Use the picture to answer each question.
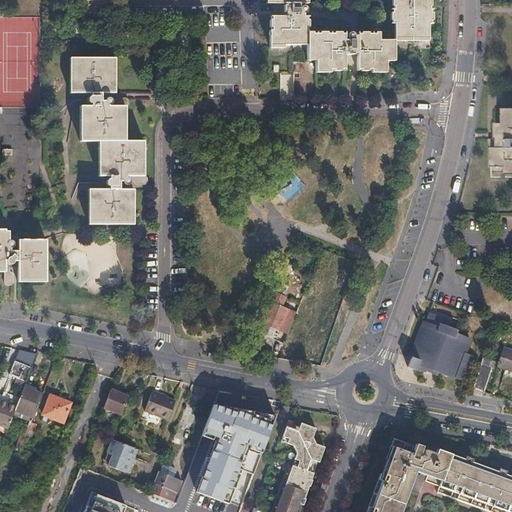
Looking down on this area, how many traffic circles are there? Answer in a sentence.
There is 1 traffic circle in the image.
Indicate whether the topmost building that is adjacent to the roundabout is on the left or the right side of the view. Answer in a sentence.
You can find the topmost building that is adjacent to the roundabout on the right side of the picture.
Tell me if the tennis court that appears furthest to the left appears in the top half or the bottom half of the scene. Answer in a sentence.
The tennis court that appears furthest to the left is in the top half of the image.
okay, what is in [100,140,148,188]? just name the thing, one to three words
building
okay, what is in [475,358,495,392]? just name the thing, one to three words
house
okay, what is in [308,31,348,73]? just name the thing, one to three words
building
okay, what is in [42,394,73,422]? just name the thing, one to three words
house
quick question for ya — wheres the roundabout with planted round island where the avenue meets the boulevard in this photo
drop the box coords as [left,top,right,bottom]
[335,361,395,421]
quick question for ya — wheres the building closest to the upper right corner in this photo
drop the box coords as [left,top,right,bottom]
[392,0,435,48]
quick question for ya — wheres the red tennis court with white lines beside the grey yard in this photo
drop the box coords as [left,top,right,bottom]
[0,17,40,107]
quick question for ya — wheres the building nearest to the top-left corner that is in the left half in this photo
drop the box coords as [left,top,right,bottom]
[71,57,118,94]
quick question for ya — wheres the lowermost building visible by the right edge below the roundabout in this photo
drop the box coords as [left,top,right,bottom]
[368,439,512,512]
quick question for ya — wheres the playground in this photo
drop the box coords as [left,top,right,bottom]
[62,234,125,293]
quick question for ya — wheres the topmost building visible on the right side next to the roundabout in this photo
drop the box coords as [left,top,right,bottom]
[408,312,472,378]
